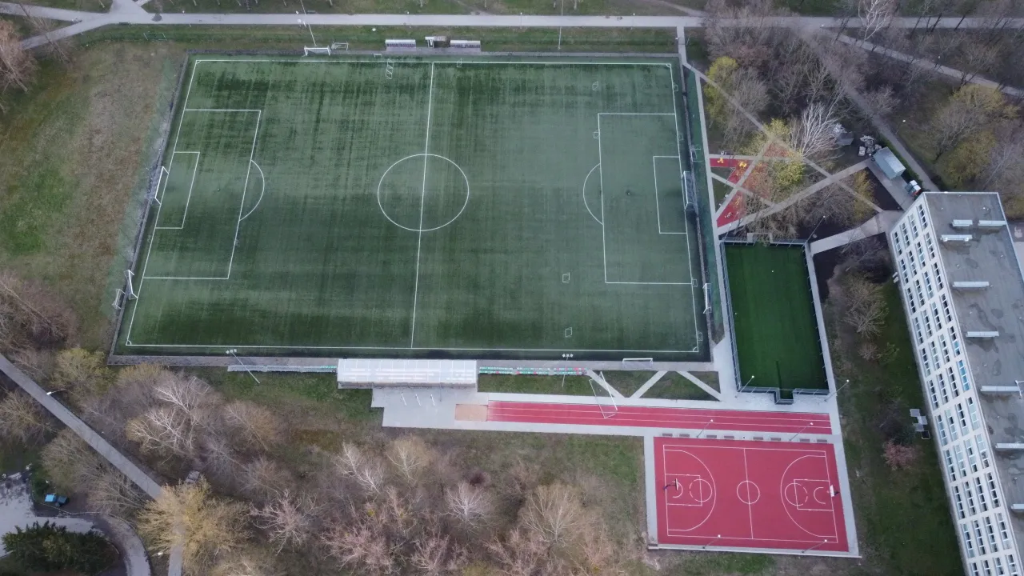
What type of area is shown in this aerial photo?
sports ground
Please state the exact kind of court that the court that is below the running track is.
basketball court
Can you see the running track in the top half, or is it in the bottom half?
bottom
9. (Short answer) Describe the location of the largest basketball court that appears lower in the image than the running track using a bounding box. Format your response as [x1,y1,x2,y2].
[654,437,849,552]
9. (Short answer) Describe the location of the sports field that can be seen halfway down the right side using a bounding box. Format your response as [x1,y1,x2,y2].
[723,233,828,402]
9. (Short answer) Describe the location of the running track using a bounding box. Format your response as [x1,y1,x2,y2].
[487,399,832,434]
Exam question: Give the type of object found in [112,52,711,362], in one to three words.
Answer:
soccer field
